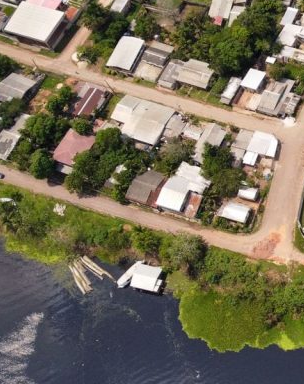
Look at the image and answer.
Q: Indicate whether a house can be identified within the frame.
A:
Yes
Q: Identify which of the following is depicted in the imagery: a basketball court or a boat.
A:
boat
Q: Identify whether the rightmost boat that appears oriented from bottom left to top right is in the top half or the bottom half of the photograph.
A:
bottom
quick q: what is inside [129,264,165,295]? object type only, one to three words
house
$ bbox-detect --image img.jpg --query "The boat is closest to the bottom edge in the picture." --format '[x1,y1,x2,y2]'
[118,261,146,288]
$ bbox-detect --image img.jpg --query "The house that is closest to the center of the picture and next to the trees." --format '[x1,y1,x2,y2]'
[126,169,169,209]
